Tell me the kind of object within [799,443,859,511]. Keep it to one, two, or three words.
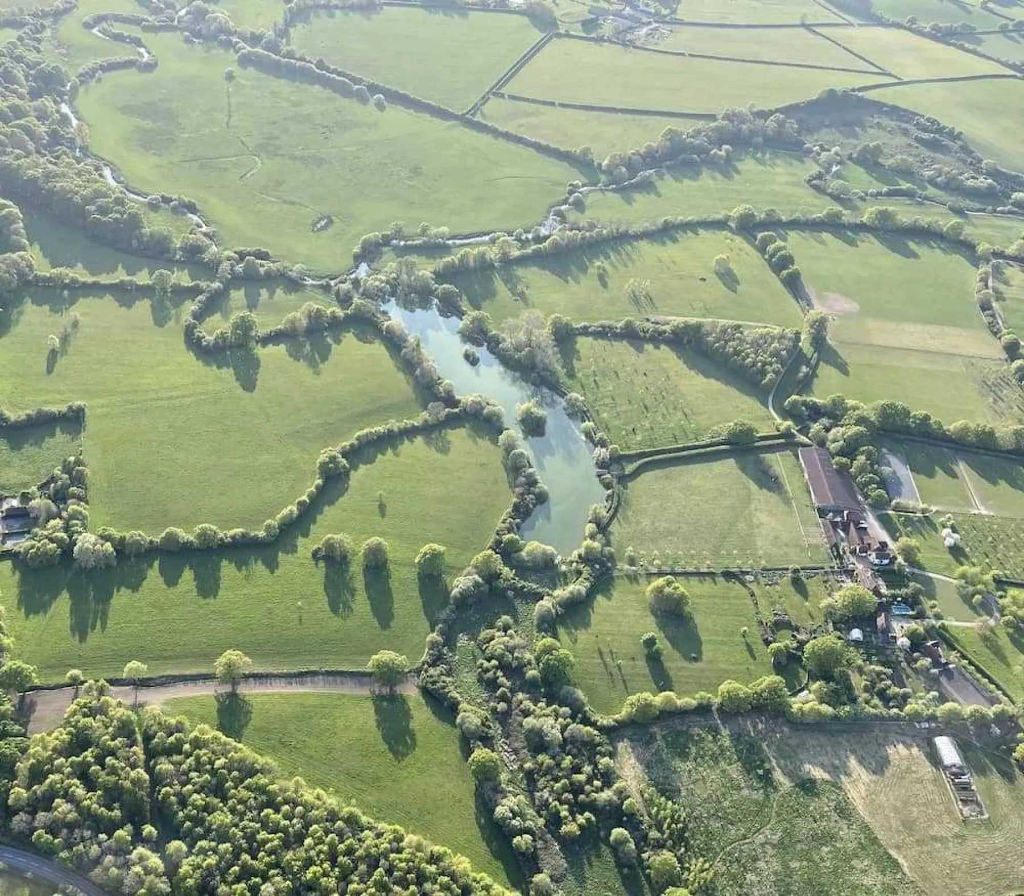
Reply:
barn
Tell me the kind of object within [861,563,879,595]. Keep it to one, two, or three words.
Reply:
building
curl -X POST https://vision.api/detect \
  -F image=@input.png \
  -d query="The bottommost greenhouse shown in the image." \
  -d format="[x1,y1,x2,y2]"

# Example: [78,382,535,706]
[935,733,964,770]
